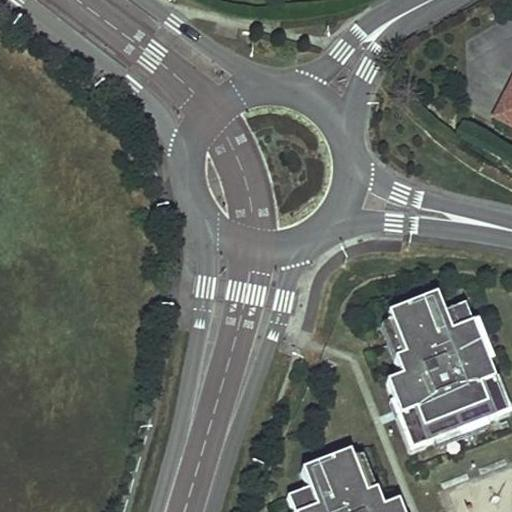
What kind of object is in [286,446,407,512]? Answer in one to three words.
building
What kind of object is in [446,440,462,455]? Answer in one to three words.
umbrella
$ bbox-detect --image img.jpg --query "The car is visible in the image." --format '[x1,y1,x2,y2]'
[180,24,202,42]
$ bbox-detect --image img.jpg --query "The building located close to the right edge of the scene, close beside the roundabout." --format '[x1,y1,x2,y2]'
[380,288,512,454]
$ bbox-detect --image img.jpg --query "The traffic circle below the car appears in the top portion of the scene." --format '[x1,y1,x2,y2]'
[165,51,384,290]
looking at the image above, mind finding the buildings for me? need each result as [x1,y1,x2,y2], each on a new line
[286,446,407,512]
[380,288,512,454]
[492,74,512,126]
